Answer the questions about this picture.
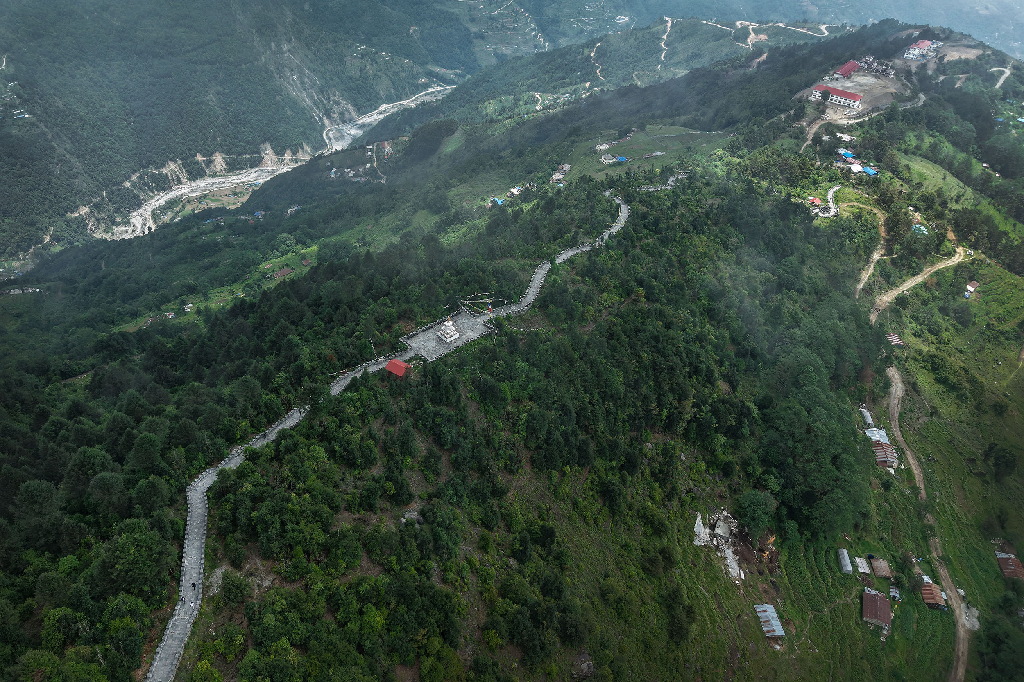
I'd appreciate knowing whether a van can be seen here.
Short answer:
No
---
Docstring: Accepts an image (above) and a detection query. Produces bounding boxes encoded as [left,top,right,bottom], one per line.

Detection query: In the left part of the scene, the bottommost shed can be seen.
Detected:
[382,357,416,382]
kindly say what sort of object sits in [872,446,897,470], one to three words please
house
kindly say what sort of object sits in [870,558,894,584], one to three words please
shed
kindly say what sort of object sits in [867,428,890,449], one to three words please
house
